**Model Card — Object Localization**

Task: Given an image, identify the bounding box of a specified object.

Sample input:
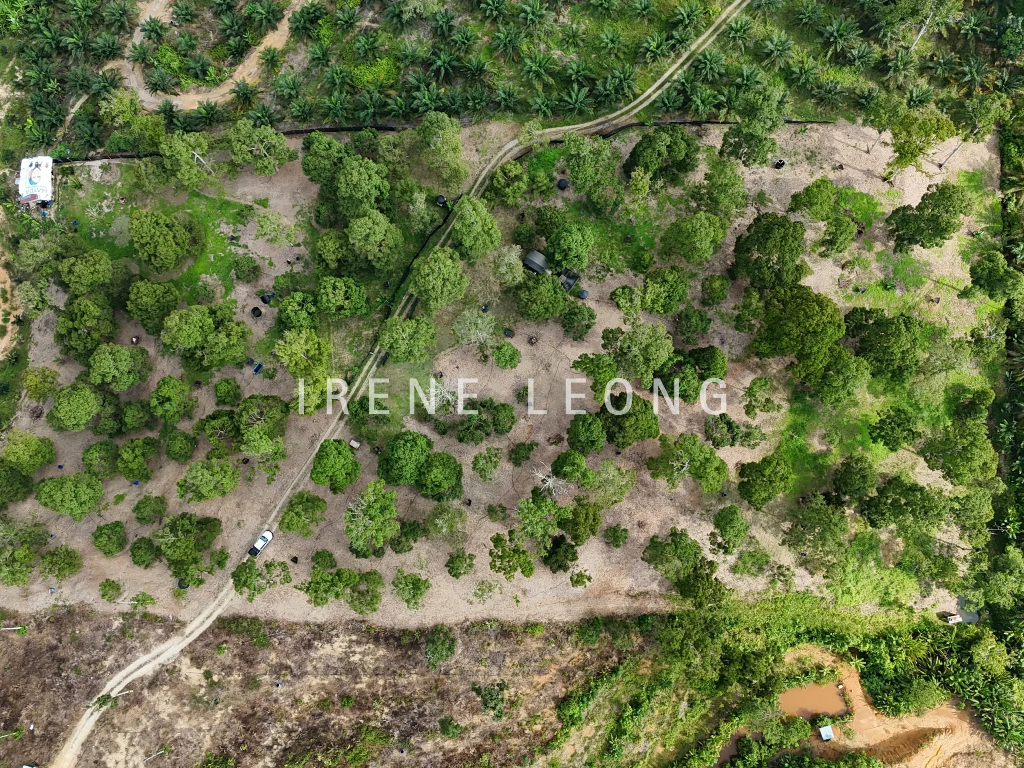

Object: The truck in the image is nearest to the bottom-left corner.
[249,530,275,559]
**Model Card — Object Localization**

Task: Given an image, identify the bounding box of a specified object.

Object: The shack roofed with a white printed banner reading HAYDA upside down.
[15,156,59,204]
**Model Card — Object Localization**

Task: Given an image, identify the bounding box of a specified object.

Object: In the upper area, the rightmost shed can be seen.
[523,249,547,272]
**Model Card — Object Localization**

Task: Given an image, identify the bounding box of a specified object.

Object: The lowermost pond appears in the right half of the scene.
[780,683,846,719]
